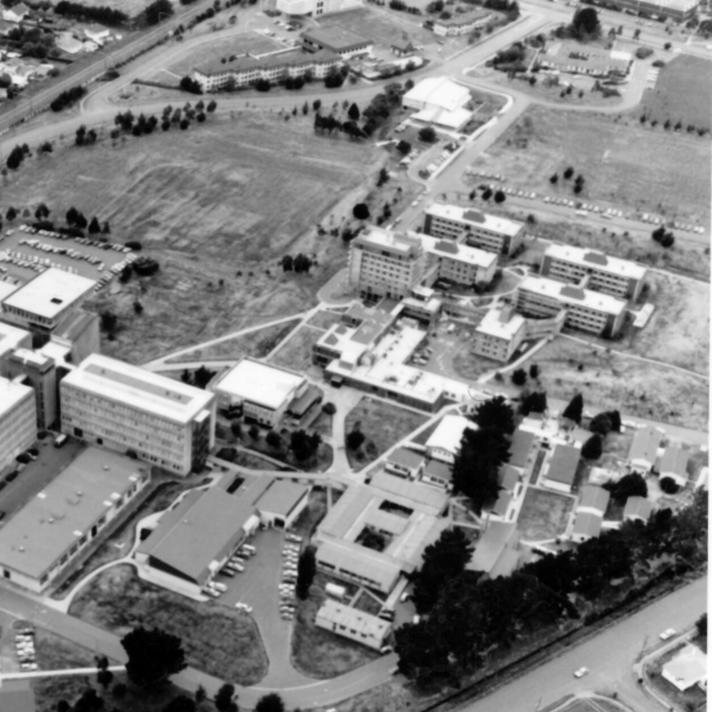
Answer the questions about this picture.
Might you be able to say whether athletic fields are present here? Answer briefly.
Yes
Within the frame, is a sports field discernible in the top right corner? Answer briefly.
Yes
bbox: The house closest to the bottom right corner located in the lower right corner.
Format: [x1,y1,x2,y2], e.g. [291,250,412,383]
[662,659,711,696]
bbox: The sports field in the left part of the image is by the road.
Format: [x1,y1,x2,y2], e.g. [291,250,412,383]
[0,112,388,261]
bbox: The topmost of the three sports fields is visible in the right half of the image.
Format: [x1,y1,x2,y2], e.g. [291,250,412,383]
[640,54,712,135]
